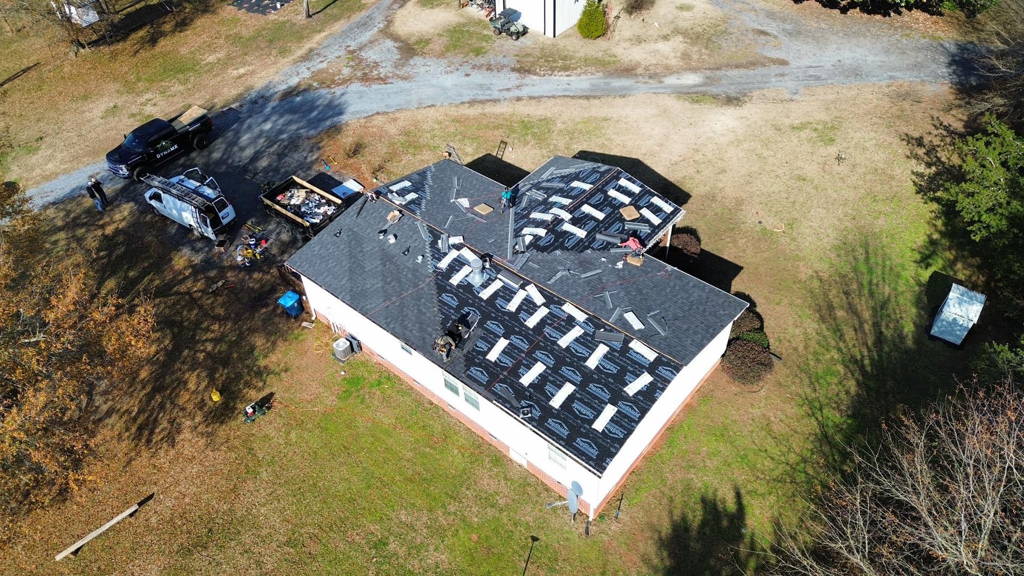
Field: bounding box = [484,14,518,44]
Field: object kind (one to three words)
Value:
vehicle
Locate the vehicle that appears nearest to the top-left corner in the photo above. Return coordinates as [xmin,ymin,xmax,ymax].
[98,112,217,183]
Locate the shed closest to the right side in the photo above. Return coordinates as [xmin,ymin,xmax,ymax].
[929,282,983,345]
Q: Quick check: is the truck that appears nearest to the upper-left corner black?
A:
Yes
